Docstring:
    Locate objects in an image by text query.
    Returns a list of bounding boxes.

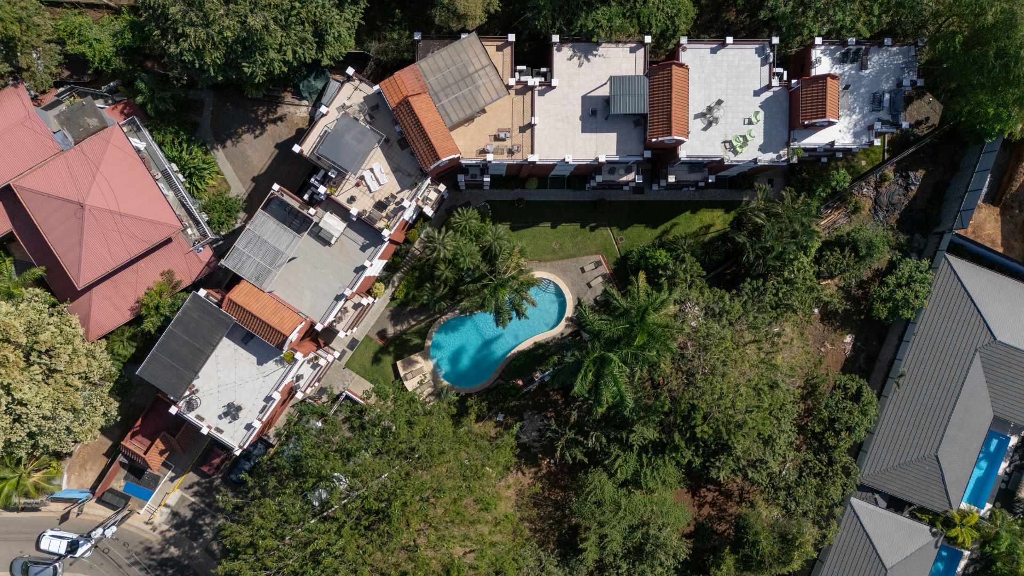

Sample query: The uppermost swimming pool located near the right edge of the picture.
[958,429,1014,513]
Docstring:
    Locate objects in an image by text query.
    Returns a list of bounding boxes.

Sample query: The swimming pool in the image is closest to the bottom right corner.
[928,542,967,576]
